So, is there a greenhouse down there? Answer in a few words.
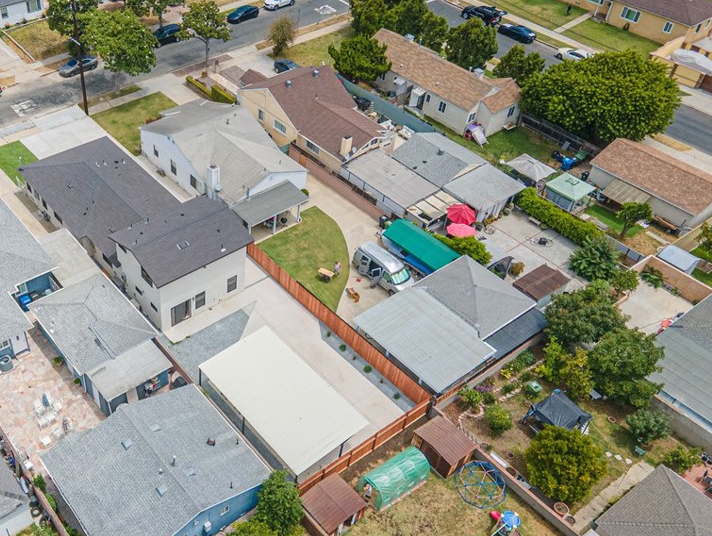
Yes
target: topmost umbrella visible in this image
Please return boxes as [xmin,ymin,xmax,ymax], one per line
[498,153,560,189]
